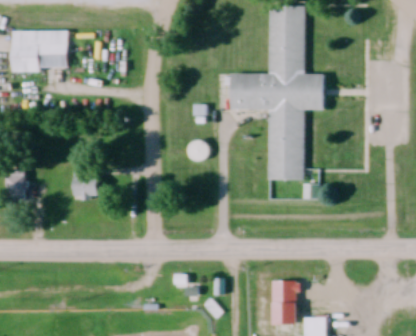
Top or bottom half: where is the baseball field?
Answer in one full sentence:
You can find the baseball field in the bottom half.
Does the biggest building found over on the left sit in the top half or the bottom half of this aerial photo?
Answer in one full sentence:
Seen from above, the biggest building found over on the left lies in the top half of the view.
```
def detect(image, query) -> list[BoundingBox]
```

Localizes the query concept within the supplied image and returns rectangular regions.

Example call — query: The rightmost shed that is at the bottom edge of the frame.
[304,317,329,336]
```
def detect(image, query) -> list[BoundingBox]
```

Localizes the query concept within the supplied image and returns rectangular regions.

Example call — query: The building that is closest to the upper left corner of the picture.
[10,30,68,73]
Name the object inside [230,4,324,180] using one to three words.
building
